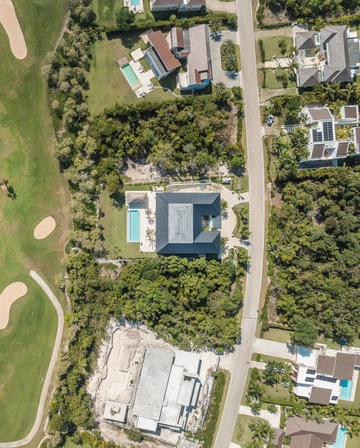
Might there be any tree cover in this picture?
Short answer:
Yes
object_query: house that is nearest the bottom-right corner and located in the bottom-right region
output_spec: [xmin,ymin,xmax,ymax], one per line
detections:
[283,415,339,448]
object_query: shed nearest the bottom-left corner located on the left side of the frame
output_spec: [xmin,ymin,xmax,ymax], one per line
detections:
[104,399,128,422]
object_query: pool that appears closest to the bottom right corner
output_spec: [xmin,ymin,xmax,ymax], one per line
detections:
[334,426,347,448]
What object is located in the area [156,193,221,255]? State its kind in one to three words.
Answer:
house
